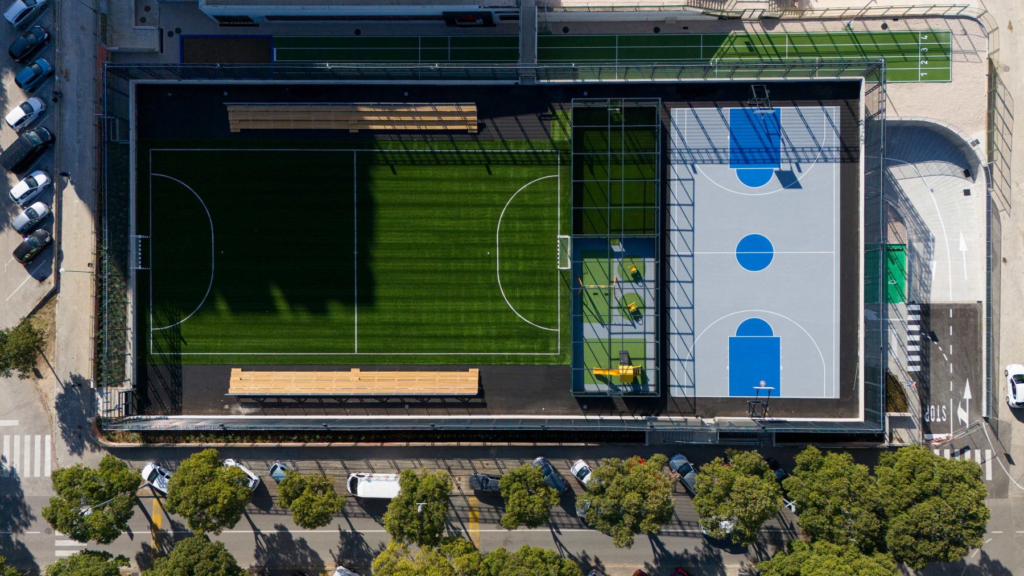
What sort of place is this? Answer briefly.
sports ground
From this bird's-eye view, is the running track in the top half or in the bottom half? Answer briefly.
top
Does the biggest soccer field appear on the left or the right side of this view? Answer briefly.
left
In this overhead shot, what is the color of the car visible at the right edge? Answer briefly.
white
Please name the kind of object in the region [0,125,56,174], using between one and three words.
van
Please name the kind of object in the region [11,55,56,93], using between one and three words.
car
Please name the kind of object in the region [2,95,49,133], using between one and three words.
car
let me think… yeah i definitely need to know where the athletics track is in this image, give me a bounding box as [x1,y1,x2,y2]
[274,30,952,77]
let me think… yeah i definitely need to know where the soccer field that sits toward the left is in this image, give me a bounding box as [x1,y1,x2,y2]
[146,107,568,365]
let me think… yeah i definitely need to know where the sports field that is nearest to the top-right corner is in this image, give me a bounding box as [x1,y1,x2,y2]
[570,111,650,246]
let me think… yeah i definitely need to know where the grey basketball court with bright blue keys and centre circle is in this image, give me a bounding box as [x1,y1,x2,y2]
[671,106,840,398]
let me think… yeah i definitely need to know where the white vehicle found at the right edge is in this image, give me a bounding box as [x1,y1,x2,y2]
[1002,364,1024,408]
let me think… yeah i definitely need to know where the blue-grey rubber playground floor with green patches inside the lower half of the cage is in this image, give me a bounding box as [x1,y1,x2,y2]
[570,238,650,388]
